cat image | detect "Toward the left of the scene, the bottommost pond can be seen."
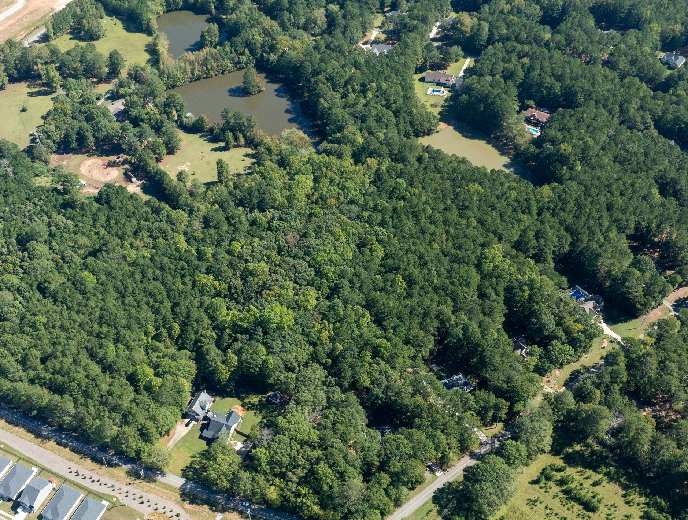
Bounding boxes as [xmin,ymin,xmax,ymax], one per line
[167,69,321,146]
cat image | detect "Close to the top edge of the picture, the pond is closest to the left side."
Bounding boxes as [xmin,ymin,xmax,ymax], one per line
[156,10,229,59]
